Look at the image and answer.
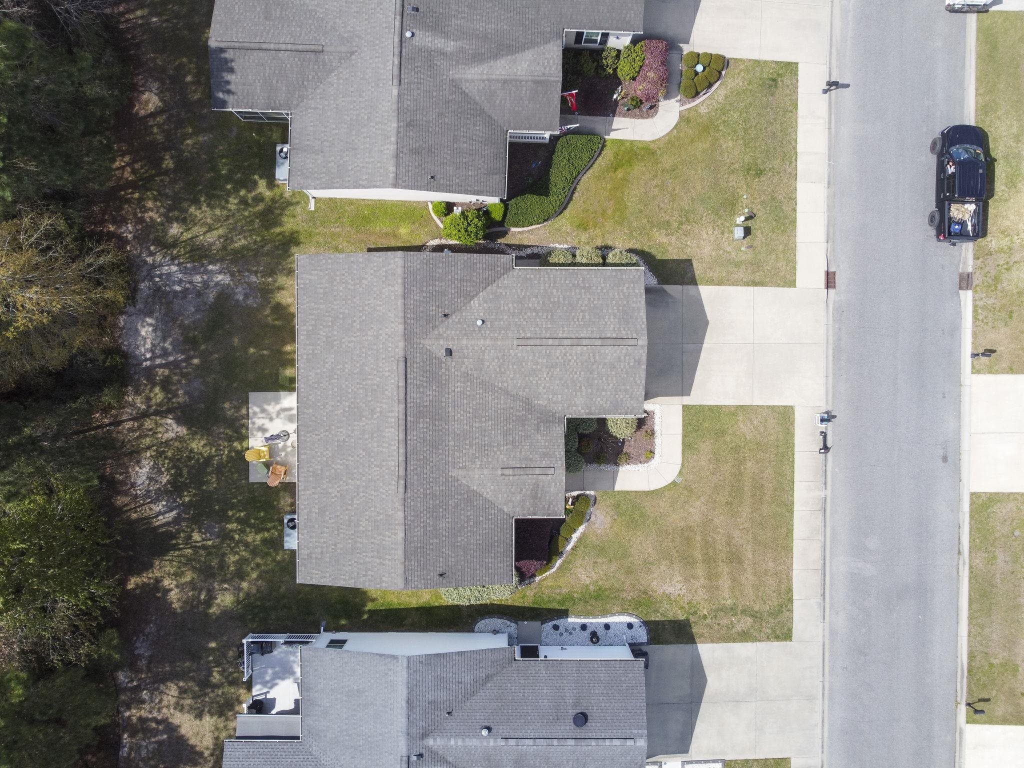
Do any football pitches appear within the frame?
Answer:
No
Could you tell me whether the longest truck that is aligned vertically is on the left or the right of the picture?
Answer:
right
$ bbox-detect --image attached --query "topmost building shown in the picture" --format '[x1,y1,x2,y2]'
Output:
[208,0,645,203]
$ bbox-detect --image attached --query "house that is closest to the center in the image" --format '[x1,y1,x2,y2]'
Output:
[297,251,648,590]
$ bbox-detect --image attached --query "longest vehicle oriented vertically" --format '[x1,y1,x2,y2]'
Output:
[928,124,988,248]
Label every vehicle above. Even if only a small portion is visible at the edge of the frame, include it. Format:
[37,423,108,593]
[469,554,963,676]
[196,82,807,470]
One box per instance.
[928,124,988,248]
[941,0,988,13]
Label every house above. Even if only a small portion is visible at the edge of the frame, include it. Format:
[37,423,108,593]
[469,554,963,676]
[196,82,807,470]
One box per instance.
[297,251,648,590]
[208,0,645,203]
[221,629,649,768]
